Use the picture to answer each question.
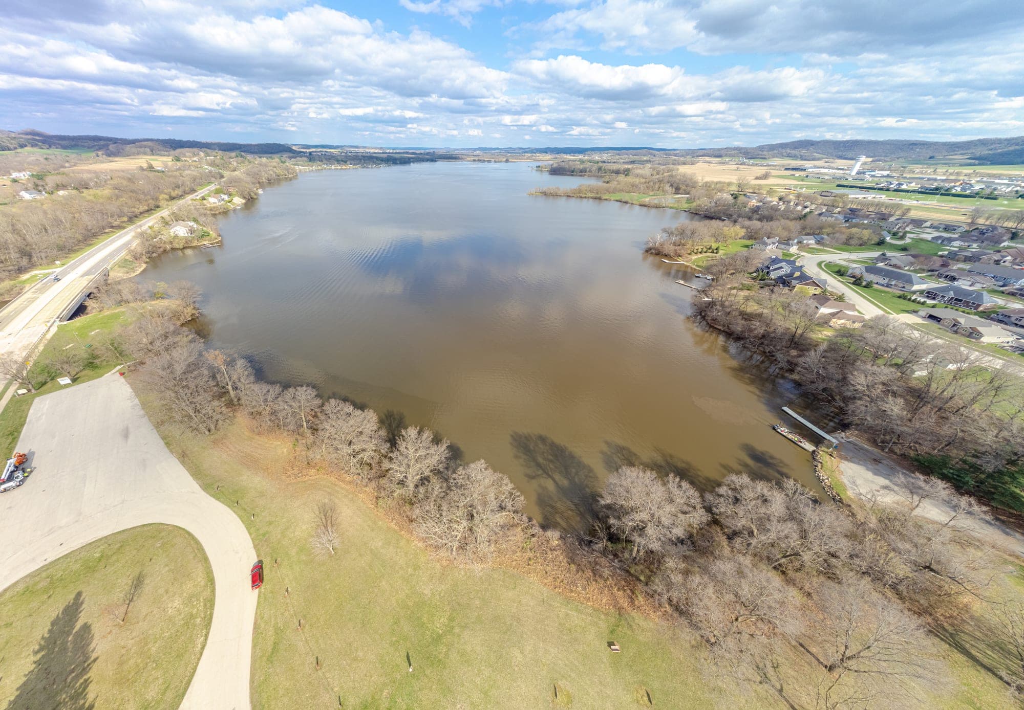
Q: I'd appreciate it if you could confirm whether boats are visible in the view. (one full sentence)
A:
Yes, a boat appears in the view.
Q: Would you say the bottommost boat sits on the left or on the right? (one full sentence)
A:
It is on the right.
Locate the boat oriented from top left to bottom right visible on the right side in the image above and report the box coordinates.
[772,419,815,451]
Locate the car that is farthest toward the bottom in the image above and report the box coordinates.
[247,561,265,590]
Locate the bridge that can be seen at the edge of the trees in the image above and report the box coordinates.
[0,254,132,341]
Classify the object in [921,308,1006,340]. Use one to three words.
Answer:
house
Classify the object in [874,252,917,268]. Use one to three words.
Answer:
house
